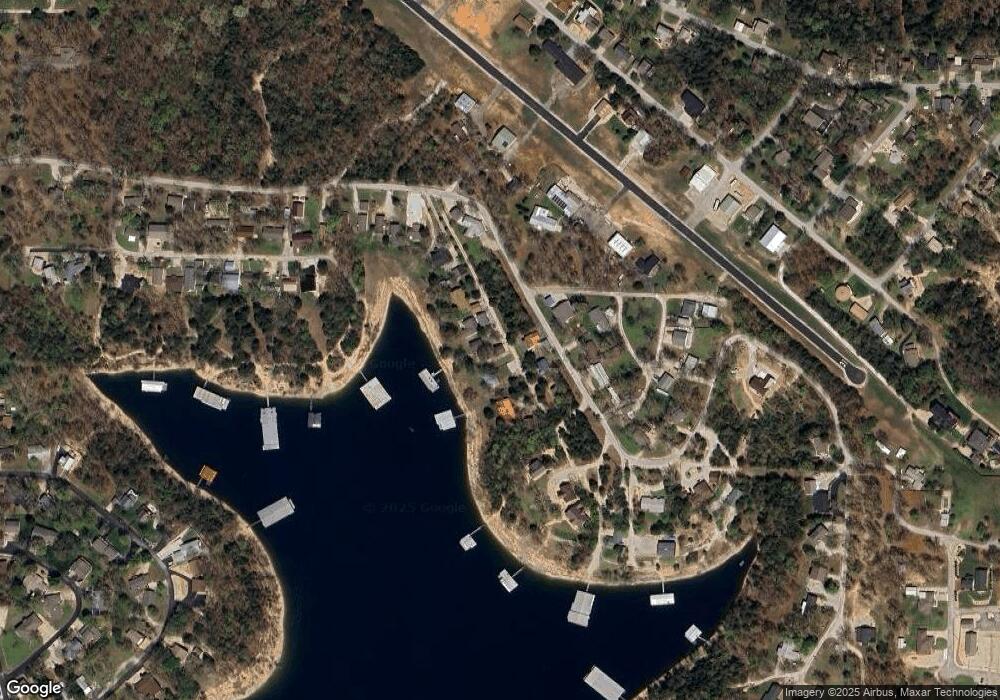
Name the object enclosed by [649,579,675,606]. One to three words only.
pier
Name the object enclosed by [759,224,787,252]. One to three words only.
hangar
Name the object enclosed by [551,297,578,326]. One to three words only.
house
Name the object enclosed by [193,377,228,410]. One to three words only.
pier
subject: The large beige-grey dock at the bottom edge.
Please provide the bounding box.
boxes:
[583,664,626,700]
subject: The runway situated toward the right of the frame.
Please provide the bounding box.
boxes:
[401,0,864,383]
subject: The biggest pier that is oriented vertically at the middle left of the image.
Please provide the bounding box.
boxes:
[261,398,279,449]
